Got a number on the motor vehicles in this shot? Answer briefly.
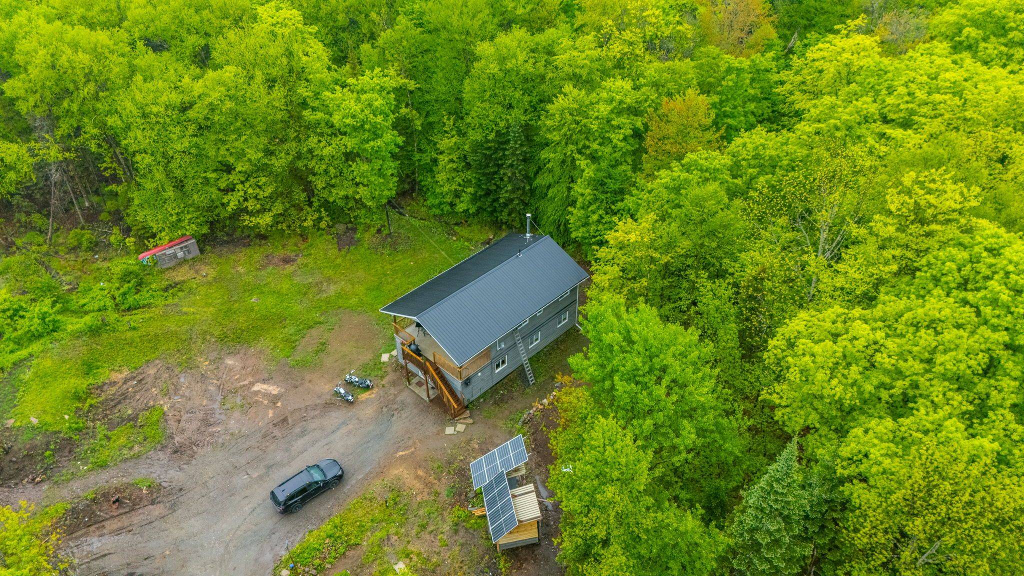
three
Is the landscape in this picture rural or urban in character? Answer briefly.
rural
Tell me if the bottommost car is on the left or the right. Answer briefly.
left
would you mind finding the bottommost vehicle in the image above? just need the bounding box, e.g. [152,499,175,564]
[268,460,344,517]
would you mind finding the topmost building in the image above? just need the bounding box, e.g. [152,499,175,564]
[378,216,591,418]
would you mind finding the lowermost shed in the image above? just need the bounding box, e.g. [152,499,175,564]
[498,482,542,553]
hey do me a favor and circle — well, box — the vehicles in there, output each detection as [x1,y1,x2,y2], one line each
[268,460,344,517]
[344,369,371,389]
[333,381,356,403]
